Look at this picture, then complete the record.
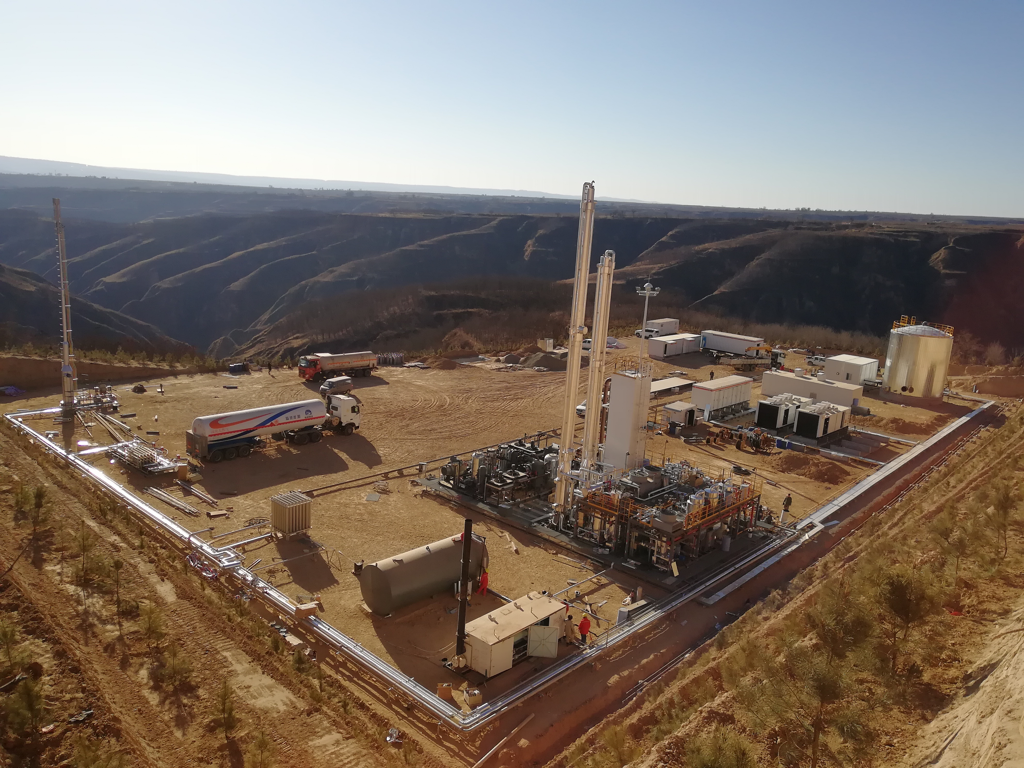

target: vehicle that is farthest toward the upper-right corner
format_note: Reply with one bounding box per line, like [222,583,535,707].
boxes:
[800,351,832,364]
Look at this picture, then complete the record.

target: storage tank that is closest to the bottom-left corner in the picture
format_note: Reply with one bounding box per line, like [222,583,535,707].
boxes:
[362,530,489,618]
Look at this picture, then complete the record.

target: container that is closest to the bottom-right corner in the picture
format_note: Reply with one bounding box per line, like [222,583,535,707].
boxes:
[693,372,753,411]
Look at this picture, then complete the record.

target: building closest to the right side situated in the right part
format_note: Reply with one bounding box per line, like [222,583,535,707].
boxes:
[827,353,882,384]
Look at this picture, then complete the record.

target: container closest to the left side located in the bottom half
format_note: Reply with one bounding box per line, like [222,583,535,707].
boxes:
[454,589,569,683]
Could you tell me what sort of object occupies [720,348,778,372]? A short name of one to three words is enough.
truck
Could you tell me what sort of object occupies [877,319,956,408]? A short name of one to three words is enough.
storage tank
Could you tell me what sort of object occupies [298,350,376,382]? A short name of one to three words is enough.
truck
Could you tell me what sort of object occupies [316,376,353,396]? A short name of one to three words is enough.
vehicle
